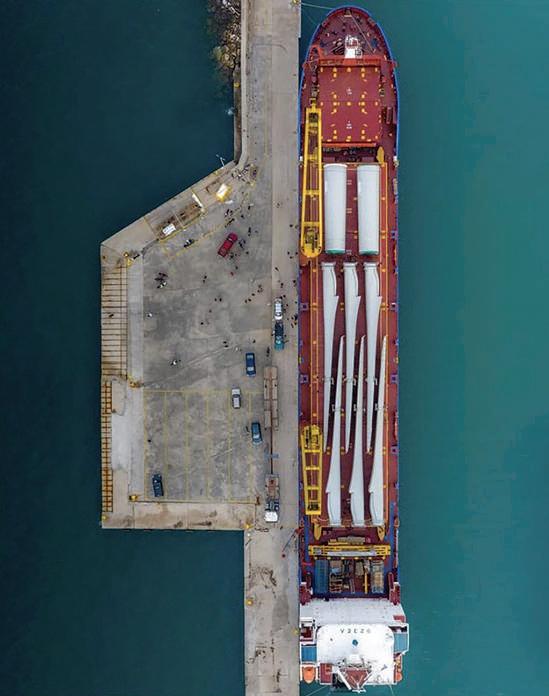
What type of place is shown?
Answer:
port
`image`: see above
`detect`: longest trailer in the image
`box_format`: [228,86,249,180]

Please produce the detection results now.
[264,366,280,526]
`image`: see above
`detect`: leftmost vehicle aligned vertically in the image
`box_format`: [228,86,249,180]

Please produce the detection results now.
[151,474,163,499]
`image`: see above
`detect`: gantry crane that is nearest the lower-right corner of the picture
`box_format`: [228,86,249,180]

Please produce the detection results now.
[308,538,390,560]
